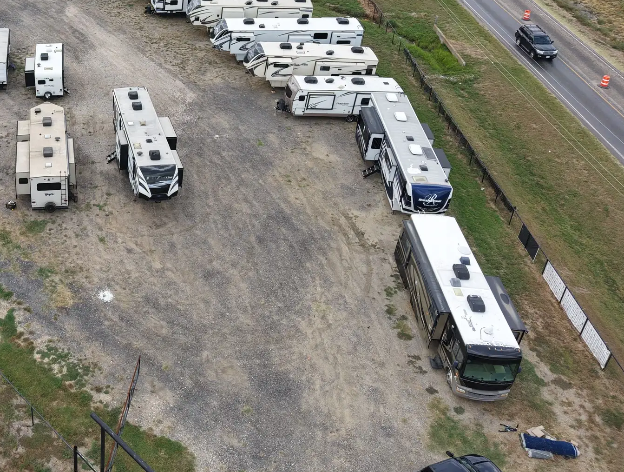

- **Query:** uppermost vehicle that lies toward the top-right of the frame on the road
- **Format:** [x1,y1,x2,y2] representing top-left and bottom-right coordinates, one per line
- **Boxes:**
[515,24,558,57]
